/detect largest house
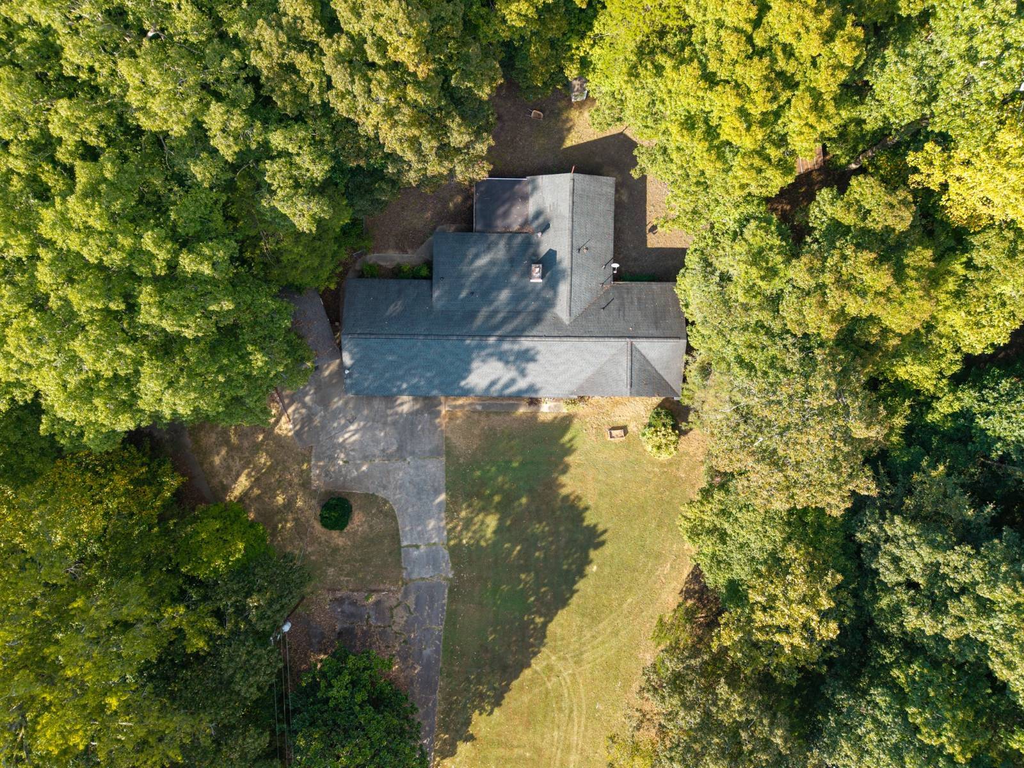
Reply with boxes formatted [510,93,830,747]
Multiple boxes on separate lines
[338,172,690,402]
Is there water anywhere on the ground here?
No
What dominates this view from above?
trees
